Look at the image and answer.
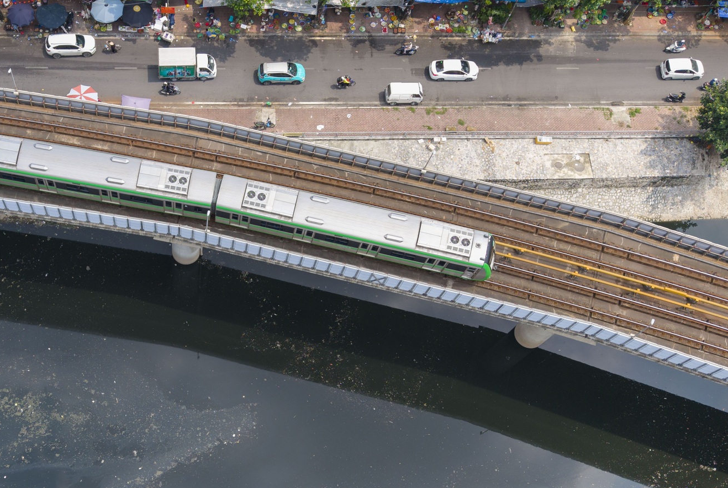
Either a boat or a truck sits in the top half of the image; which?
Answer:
truck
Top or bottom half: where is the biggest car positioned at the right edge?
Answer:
top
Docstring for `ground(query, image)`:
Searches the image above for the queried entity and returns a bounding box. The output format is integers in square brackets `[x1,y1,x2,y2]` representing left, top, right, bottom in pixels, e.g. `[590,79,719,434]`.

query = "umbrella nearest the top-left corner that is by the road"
[7,4,35,32]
